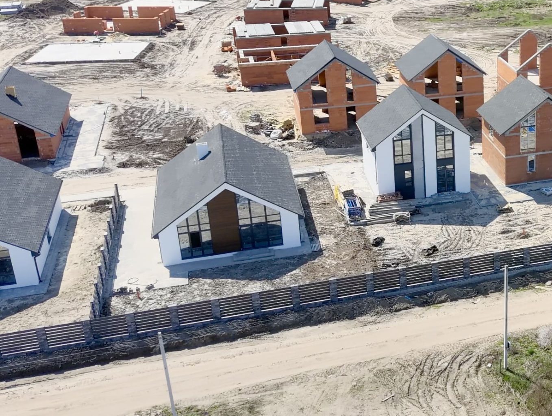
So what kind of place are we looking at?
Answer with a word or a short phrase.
residential area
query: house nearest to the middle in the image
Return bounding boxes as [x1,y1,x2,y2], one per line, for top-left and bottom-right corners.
[147,122,317,277]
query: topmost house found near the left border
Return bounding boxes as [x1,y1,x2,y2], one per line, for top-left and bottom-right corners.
[0,66,72,162]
